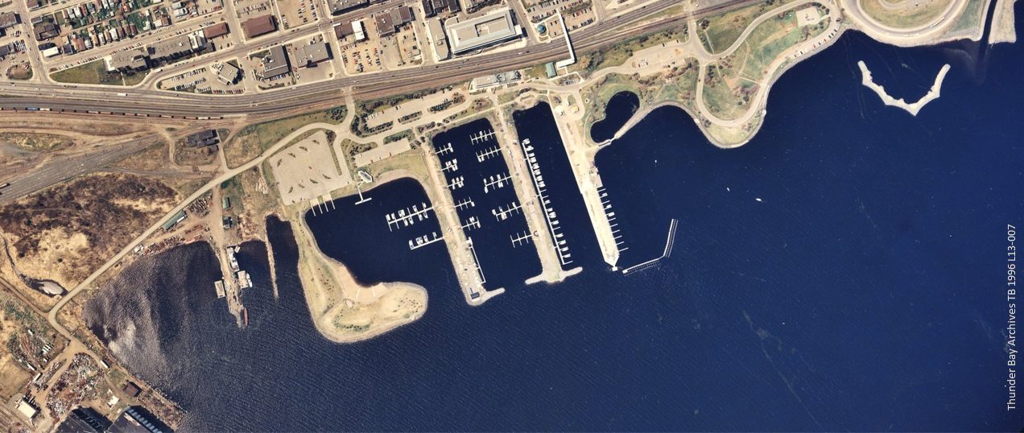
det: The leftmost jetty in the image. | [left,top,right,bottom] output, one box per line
[211,243,244,327]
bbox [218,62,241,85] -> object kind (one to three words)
building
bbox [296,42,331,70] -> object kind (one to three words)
building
